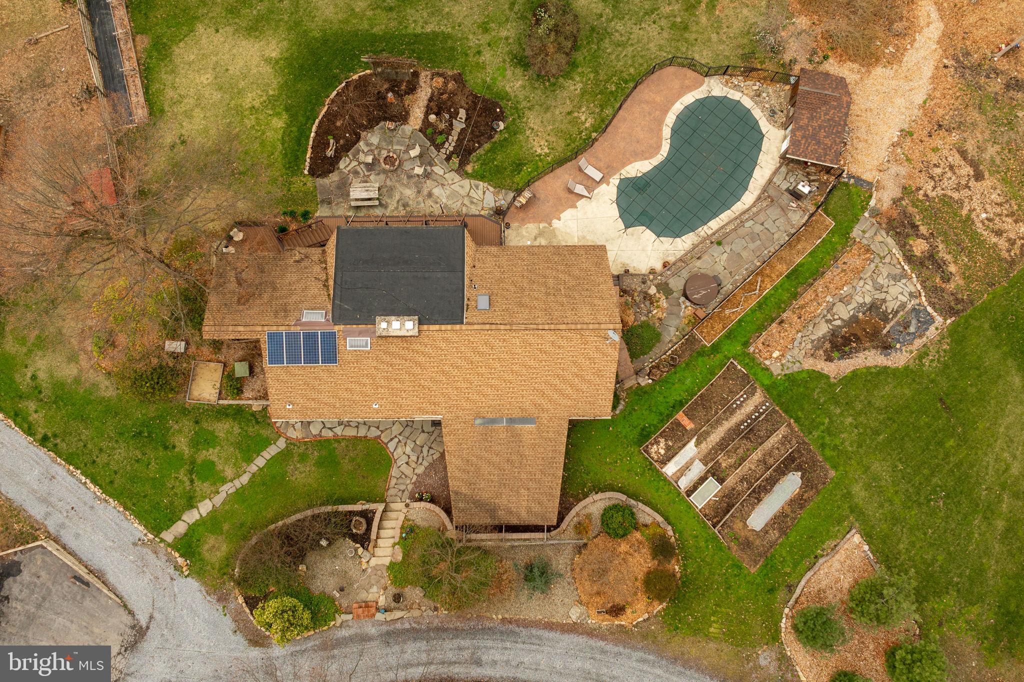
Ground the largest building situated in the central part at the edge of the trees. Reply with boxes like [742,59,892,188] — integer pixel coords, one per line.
[202,226,621,525]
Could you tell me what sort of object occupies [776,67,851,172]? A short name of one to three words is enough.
shed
